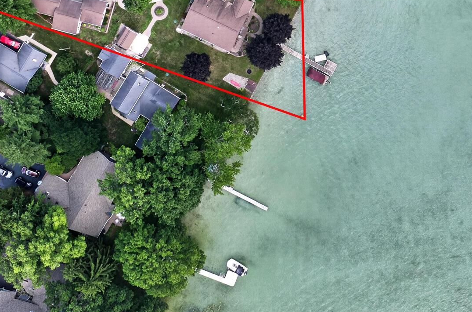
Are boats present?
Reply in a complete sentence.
Yes, a boat is visible in the scene.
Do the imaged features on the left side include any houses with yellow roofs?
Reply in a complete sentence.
No, I can find no house with a yellow roof on the left side.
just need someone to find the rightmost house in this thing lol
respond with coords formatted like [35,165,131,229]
[172,0,254,53]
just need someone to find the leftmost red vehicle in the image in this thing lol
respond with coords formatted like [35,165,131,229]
[0,34,22,49]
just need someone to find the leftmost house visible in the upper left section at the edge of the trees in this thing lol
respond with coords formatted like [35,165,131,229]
[0,42,49,90]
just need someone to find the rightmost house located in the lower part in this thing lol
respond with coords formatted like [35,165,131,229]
[31,151,115,238]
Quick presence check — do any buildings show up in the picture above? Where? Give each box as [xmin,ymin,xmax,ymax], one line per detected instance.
[98,45,132,79]
[0,42,49,90]
[31,151,115,238]
[30,0,109,35]
[172,0,254,53]
[0,278,49,312]
[110,70,181,151]
[115,26,139,51]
